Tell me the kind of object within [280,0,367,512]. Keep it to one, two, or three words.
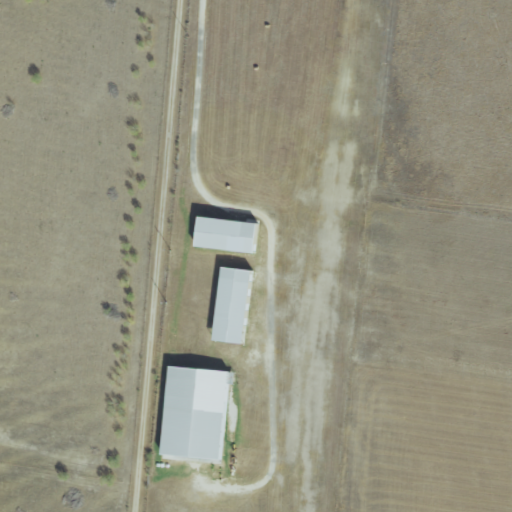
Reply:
runway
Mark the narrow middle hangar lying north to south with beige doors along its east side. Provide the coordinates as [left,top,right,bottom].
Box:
[212,267,252,347]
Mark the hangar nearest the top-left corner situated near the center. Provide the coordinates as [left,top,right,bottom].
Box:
[194,216,258,252]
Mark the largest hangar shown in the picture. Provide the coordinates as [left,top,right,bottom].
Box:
[160,366,228,461]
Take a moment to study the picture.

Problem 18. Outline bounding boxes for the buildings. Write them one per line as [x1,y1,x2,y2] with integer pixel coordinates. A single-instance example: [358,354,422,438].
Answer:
[194,216,258,252]
[212,267,252,347]
[160,366,228,461]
